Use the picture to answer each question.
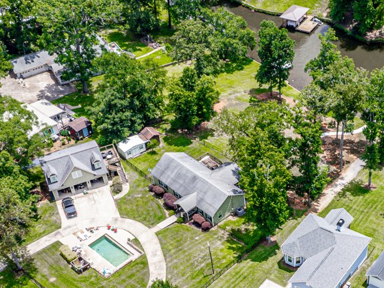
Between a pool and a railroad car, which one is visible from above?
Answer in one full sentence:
Of the two, only a pool appears.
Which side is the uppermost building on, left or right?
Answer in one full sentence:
The uppermost building is on the right side of the image.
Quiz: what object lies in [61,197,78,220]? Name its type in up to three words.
vehicle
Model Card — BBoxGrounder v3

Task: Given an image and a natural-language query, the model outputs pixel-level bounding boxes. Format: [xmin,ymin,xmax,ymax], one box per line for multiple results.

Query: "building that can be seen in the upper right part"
[277,3,314,37]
